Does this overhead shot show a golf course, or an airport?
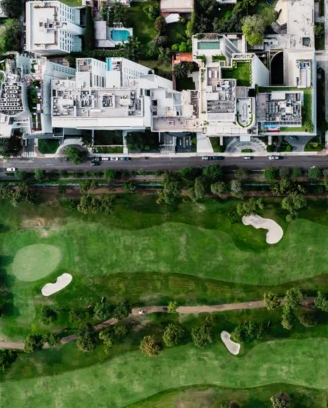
golf course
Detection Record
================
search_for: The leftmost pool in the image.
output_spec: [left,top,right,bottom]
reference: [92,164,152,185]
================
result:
[109,28,131,41]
